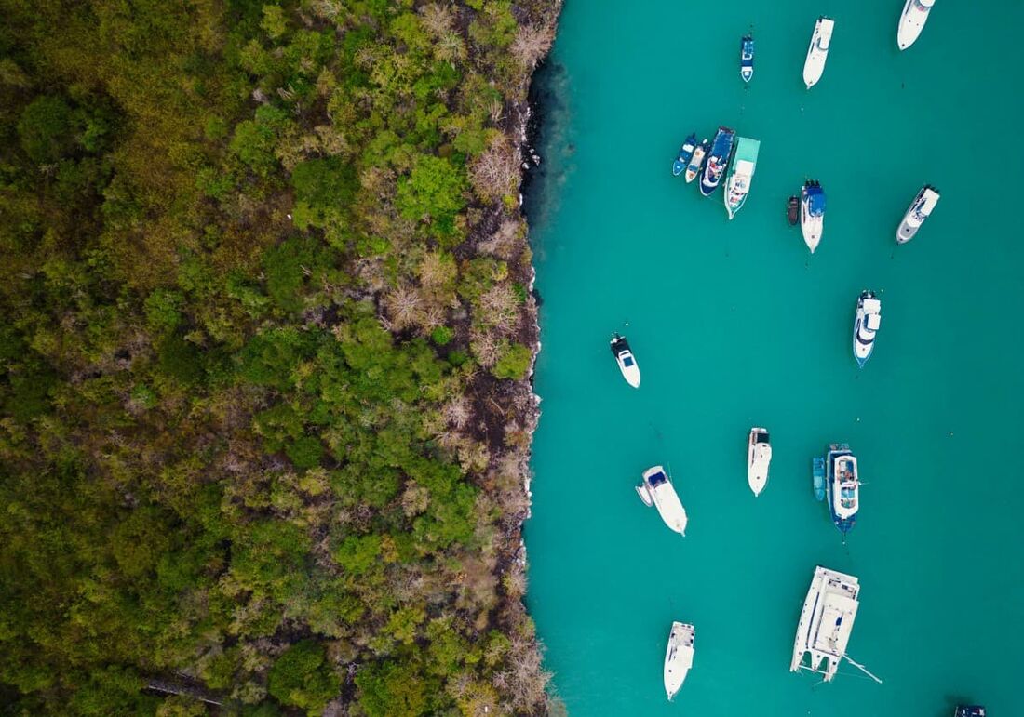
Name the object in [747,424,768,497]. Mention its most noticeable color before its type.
white boat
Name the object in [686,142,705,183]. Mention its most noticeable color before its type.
white boat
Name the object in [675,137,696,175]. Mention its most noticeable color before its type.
blue boat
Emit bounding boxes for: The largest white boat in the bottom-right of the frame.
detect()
[788,565,882,690]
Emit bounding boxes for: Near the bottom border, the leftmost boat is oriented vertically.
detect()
[664,620,694,702]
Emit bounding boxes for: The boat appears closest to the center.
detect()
[610,332,640,387]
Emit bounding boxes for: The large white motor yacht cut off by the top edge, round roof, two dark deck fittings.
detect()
[898,0,934,50]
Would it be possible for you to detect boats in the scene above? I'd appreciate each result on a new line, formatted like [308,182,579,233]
[898,0,934,50]
[675,137,696,175]
[636,483,652,506]
[854,293,881,370]
[806,14,835,90]
[952,700,985,717]
[786,194,799,226]
[788,565,882,690]
[747,424,768,497]
[822,445,862,541]
[642,465,684,537]
[610,332,640,387]
[741,34,755,82]
[896,184,944,245]
[686,142,705,183]
[664,620,694,702]
[725,137,758,221]
[812,455,825,501]
[703,125,736,196]
[800,181,825,254]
